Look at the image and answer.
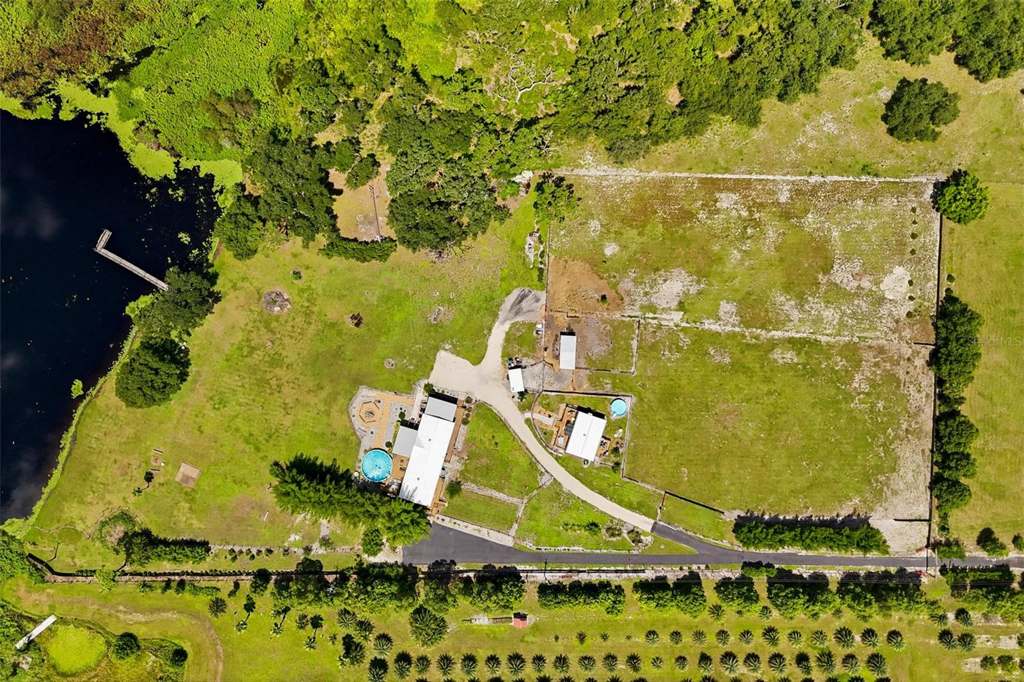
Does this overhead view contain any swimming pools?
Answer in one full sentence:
Yes, I can see a swimming pool in this picture.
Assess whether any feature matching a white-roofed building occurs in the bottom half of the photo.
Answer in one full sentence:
Yes, a white-roofed building is visible in the bottom half of the photo.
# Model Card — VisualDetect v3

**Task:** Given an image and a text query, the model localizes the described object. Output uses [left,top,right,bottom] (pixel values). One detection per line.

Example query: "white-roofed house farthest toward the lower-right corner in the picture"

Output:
[566,411,607,461]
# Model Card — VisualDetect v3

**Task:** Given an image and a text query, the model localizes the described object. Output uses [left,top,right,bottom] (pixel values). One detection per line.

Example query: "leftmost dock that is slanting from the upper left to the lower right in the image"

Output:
[93,229,165,287]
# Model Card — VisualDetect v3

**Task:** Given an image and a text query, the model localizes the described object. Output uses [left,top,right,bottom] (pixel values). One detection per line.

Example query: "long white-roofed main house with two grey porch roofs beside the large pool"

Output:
[393,397,457,506]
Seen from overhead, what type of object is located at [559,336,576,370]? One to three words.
barn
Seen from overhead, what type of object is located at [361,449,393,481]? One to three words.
swimming pool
